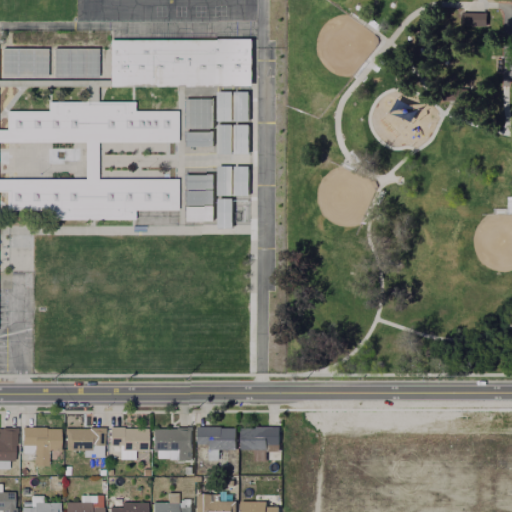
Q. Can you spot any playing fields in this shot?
Yes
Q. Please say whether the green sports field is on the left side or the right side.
left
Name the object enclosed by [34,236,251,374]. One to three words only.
sports field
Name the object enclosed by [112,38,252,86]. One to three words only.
building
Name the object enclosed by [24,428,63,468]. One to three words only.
house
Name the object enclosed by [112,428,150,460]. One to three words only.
house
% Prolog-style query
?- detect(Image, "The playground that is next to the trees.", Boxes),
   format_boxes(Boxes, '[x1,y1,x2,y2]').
[368,88,444,150]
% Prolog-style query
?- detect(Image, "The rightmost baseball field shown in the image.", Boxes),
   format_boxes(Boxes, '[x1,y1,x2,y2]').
[476,212,512,274]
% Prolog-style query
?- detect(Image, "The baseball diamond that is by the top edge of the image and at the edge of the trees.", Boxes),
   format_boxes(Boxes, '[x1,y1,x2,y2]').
[316,14,382,76]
